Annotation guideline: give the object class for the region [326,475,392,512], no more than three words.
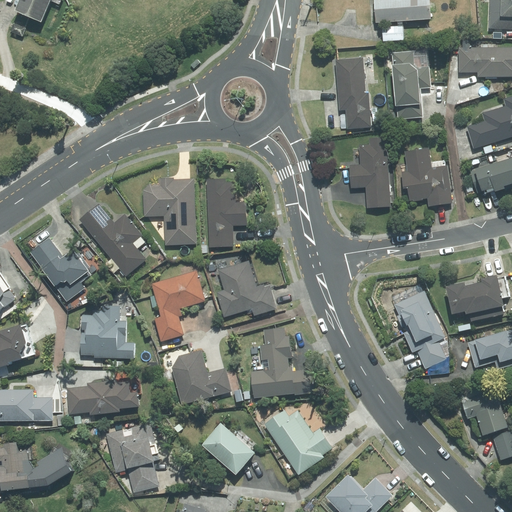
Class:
house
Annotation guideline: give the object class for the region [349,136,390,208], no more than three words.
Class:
house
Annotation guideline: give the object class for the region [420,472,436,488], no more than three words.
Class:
vehicle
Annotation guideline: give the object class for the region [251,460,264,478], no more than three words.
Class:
vehicle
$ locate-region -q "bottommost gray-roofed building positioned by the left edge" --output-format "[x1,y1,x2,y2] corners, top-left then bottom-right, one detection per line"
[0,442,74,490]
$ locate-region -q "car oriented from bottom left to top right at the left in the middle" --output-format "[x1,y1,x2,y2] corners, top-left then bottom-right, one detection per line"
[34,231,50,243]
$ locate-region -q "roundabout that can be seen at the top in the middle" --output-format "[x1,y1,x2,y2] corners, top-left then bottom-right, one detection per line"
[220,76,266,122]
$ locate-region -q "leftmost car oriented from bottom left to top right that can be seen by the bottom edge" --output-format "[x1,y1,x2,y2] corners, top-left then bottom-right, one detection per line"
[386,475,402,491]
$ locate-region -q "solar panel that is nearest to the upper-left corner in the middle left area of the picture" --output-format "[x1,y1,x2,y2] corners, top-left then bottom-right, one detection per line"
[90,205,111,228]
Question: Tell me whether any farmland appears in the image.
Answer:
No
